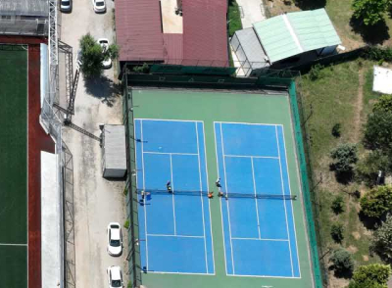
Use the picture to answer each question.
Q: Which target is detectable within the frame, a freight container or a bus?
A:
freight container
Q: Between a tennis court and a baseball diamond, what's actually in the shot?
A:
tennis court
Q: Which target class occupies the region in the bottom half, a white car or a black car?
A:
white car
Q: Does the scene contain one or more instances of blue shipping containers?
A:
No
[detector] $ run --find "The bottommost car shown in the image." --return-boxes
[108,266,124,288]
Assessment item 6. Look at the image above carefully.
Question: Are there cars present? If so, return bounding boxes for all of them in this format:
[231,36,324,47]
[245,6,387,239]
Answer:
[107,225,123,256]
[108,266,124,288]
[59,0,72,13]
[92,0,106,14]
[98,41,113,68]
